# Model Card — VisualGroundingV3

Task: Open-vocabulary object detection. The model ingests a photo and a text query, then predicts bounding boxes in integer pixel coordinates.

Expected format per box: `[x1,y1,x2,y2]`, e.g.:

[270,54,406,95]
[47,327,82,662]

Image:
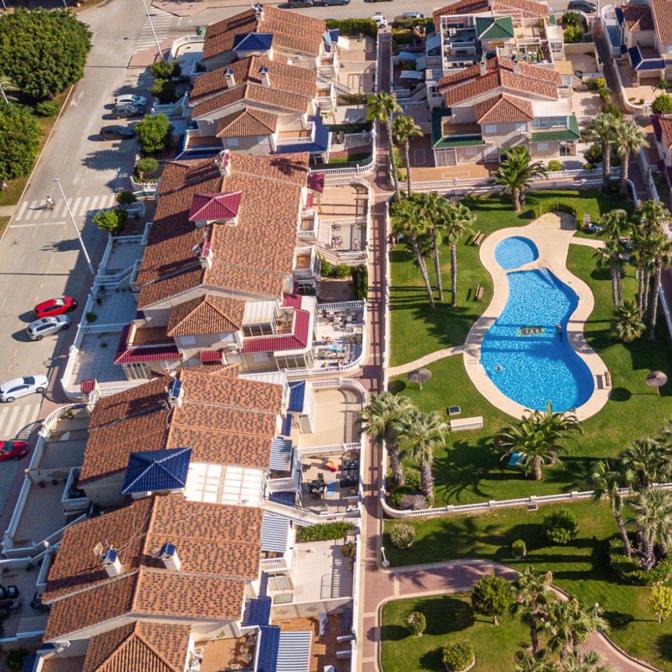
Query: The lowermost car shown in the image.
[0,437,32,459]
